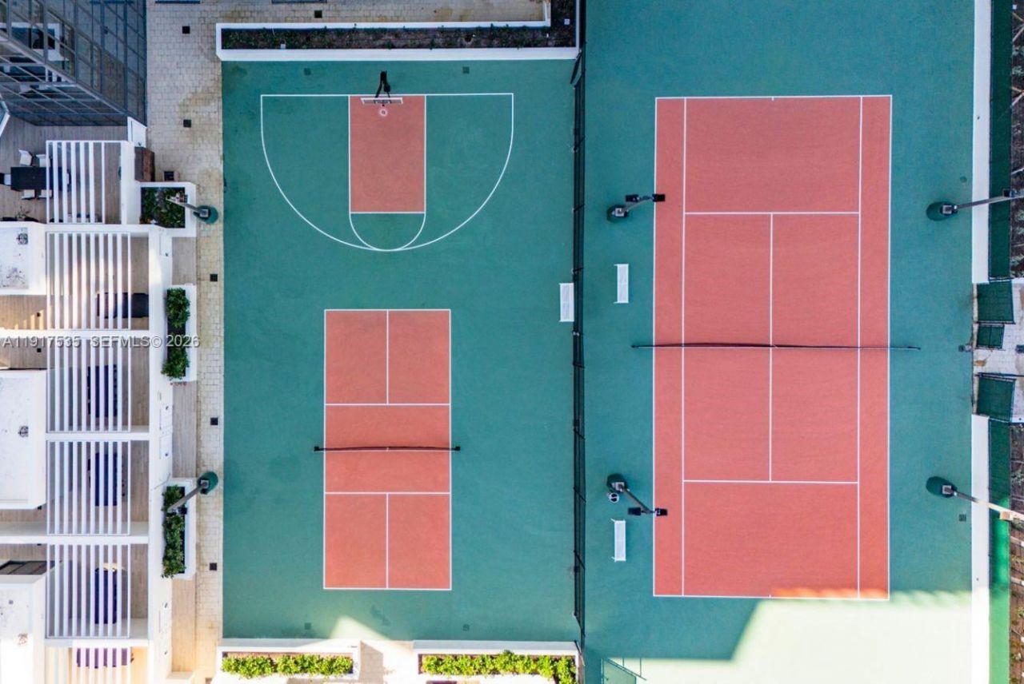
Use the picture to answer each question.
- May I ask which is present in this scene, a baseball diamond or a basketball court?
basketball court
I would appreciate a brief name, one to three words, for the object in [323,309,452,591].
sports court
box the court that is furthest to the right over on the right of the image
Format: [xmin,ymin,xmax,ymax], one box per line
[574,0,973,684]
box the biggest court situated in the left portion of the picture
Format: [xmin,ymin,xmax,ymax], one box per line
[222,60,573,643]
